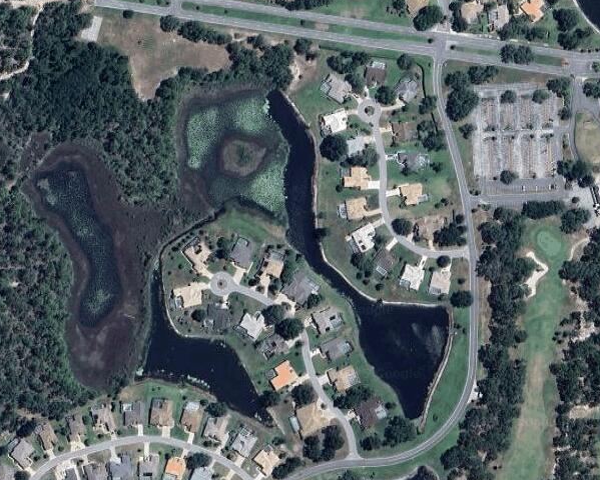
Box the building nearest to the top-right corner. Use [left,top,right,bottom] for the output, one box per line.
[522,0,548,22]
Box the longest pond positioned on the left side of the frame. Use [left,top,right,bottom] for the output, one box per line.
[141,250,277,426]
